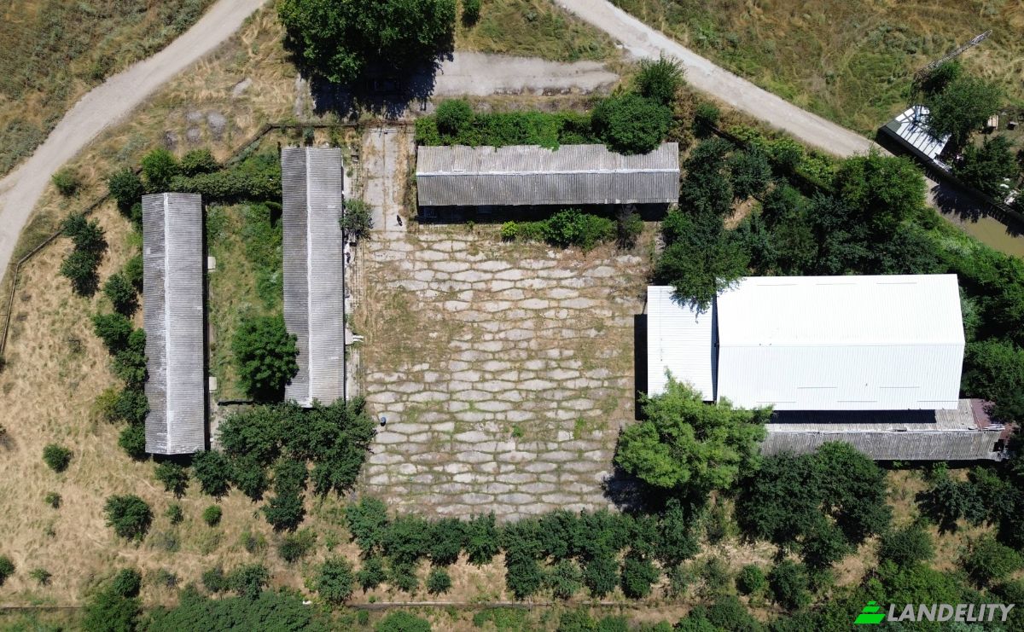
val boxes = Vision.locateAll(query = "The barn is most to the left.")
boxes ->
[141,191,213,457]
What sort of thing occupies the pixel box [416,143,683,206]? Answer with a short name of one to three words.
barn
